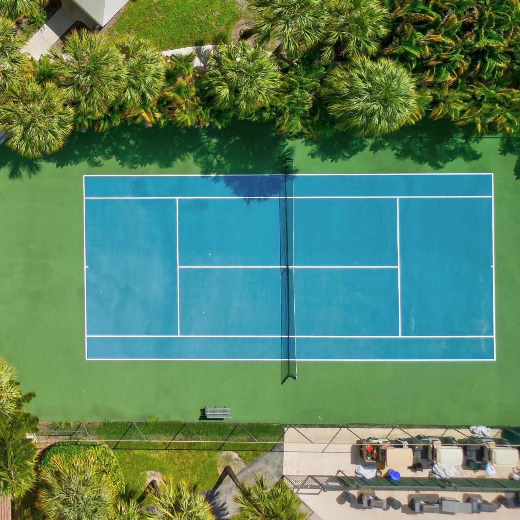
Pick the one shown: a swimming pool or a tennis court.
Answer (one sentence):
There is a tennis court in the scene.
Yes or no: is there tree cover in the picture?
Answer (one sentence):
Yes, tree cover can be seen from above here.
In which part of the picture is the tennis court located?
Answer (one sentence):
The tennis court sits in the center section of the image.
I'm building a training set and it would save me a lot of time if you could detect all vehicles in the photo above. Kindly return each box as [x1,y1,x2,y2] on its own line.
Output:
[366,438,420,470]
[468,440,520,471]
[414,438,470,470]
